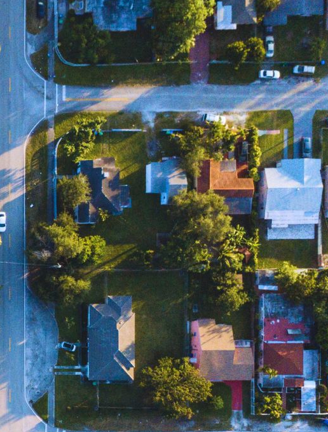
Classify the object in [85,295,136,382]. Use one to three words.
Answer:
house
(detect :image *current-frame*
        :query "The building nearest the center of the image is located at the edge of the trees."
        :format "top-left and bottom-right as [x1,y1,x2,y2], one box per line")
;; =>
[140,161,188,206]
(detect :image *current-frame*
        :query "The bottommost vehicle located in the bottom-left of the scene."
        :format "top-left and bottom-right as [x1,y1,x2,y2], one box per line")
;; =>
[57,339,78,352]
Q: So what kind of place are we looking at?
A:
residential area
